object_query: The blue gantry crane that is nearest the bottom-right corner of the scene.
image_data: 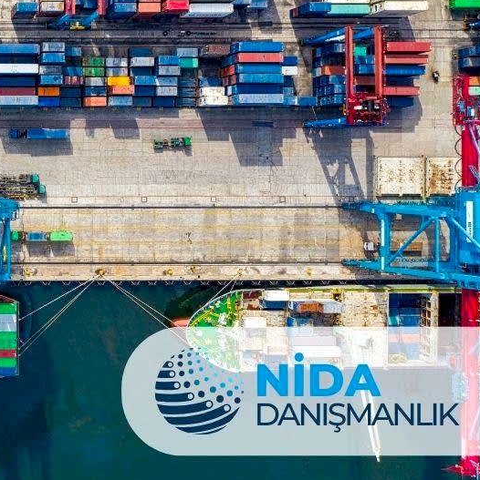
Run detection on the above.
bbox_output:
[349,78,480,480]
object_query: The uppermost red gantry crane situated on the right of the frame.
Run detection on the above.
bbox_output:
[302,25,387,128]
